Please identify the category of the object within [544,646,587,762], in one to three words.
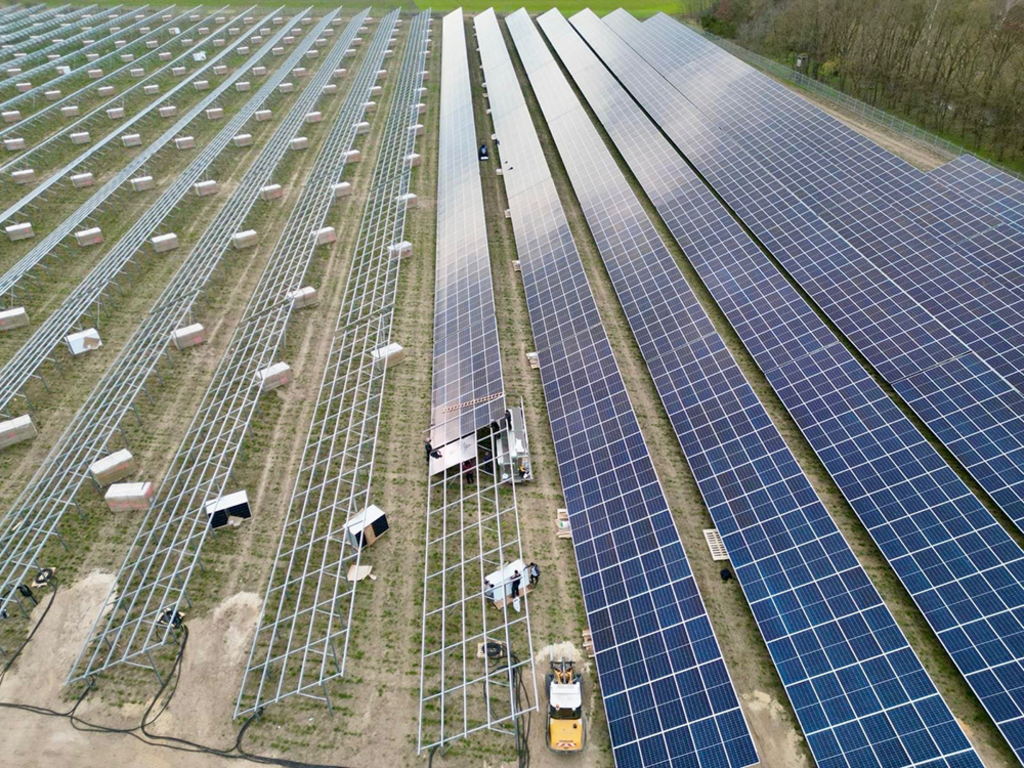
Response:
work vehicle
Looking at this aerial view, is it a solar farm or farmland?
solar farm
